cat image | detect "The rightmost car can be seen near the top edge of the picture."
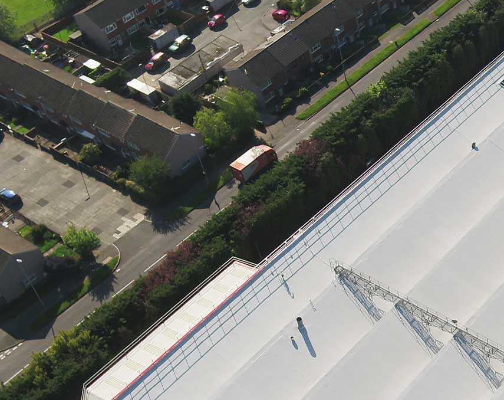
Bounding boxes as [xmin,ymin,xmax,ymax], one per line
[268,6,293,23]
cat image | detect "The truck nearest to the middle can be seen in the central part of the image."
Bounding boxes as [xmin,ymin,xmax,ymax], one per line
[226,142,276,183]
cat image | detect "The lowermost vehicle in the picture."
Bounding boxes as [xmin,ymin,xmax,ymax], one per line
[0,190,26,207]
